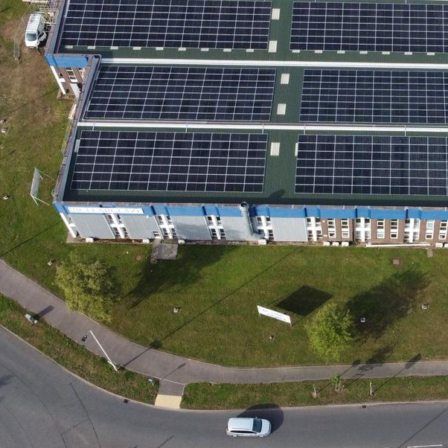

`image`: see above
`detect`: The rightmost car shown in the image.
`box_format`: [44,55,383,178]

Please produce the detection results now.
[226,417,272,439]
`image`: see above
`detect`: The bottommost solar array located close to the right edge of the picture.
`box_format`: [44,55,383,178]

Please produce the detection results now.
[293,135,448,197]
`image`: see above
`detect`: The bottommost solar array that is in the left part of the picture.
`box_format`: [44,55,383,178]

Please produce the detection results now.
[74,130,268,194]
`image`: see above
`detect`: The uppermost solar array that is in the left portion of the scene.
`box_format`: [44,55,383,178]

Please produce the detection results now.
[63,0,271,50]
